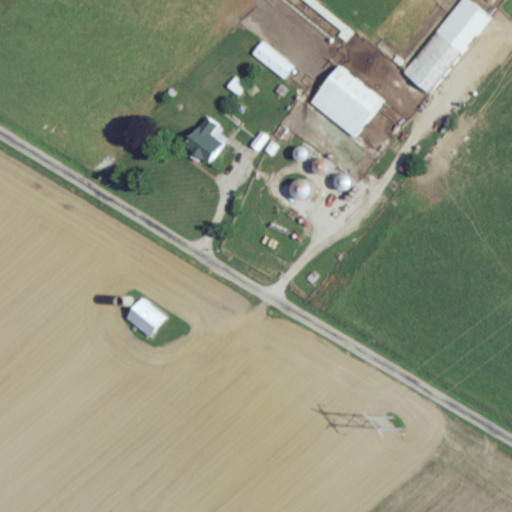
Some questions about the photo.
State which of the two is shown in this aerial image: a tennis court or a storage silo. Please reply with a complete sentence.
There is a storage silo in the scene.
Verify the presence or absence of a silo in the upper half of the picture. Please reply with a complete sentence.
Yes, a silo can be seen in the upper half of the picture.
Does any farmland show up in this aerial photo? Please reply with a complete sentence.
Yes, the picture does contain farmland.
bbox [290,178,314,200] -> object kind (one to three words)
silo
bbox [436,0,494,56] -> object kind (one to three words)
barn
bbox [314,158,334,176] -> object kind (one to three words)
silo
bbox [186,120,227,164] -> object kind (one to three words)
house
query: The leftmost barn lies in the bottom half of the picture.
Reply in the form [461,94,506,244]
[126,296,168,338]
